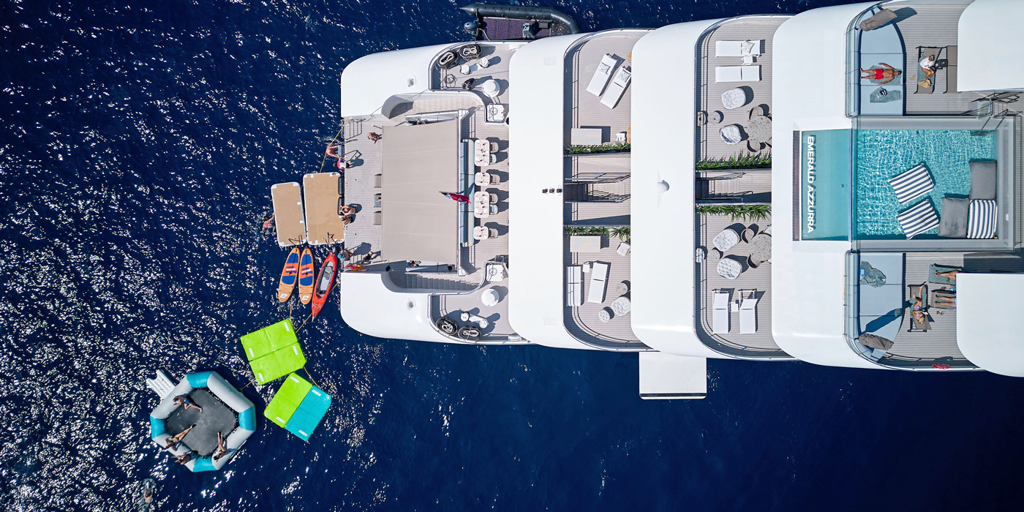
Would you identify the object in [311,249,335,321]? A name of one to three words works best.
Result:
boat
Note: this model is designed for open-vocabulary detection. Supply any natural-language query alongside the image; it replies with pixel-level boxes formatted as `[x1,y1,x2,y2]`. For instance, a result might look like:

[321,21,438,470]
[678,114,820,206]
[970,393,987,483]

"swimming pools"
[792,98,1022,252]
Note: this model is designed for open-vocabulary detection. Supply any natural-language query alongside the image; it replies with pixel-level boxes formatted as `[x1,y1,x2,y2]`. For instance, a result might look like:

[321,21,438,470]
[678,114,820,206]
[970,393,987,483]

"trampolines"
[141,364,258,471]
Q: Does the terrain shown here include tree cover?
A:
No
